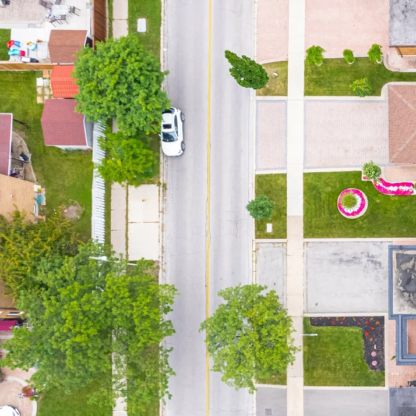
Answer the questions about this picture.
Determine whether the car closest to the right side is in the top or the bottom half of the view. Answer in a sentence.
It is in the top half that the car closest to the right side appears.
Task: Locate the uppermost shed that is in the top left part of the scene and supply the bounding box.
[45,29,97,66]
